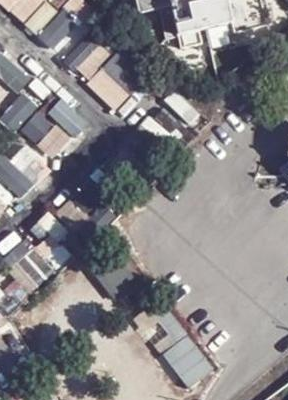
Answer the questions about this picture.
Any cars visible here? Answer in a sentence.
Yes, looking at the shot, I can spot a car.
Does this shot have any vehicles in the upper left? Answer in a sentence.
Yes, a vehicle shows up in the upper left.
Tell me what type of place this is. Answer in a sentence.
This looks like a residential area.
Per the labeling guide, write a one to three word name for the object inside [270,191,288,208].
car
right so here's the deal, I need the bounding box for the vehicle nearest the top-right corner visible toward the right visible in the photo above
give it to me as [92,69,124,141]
[225,112,246,132]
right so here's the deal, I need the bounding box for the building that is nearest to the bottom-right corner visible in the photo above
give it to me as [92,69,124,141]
[162,336,214,388]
